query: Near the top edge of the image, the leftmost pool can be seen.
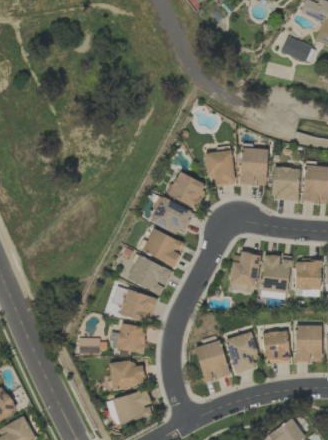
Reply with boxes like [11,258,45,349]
[252,4,274,20]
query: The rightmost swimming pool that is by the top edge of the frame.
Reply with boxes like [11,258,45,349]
[295,14,314,30]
